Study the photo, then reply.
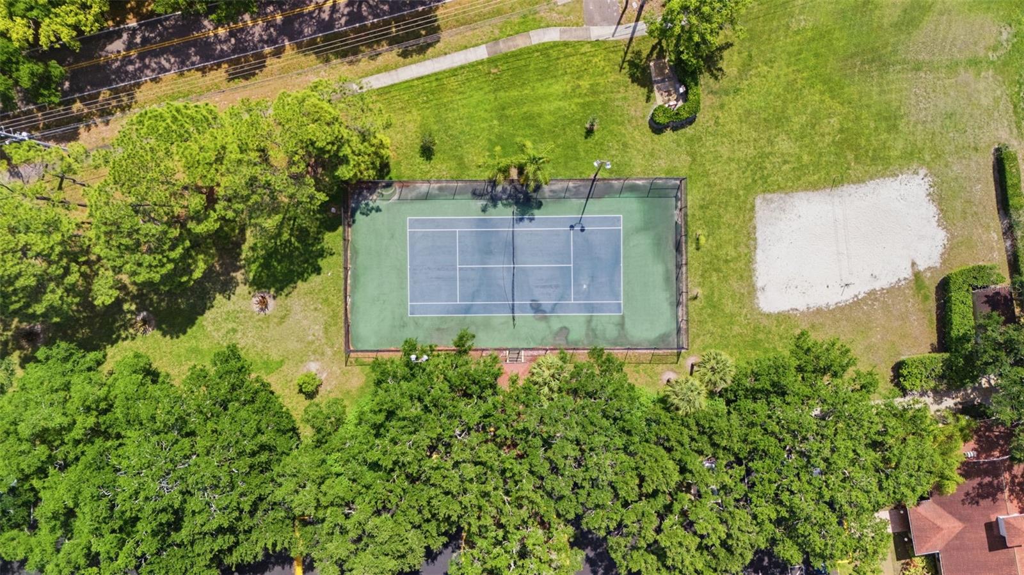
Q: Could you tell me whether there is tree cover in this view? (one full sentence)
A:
Yes, there is tree cover in the image.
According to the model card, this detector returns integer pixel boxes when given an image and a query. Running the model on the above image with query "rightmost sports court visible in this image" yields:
[753,170,950,313]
